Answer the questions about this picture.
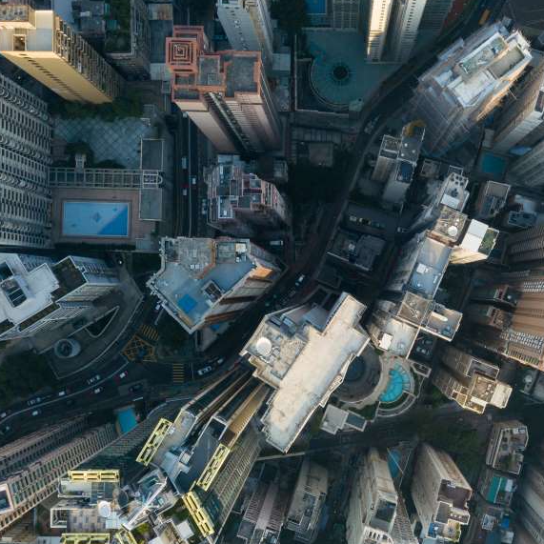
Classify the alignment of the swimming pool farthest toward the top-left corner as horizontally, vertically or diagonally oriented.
horizontally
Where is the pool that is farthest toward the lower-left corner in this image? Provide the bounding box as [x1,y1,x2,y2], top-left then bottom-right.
[116,409,135,431]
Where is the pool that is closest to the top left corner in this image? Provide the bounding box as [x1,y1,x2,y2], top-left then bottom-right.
[63,202,128,236]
